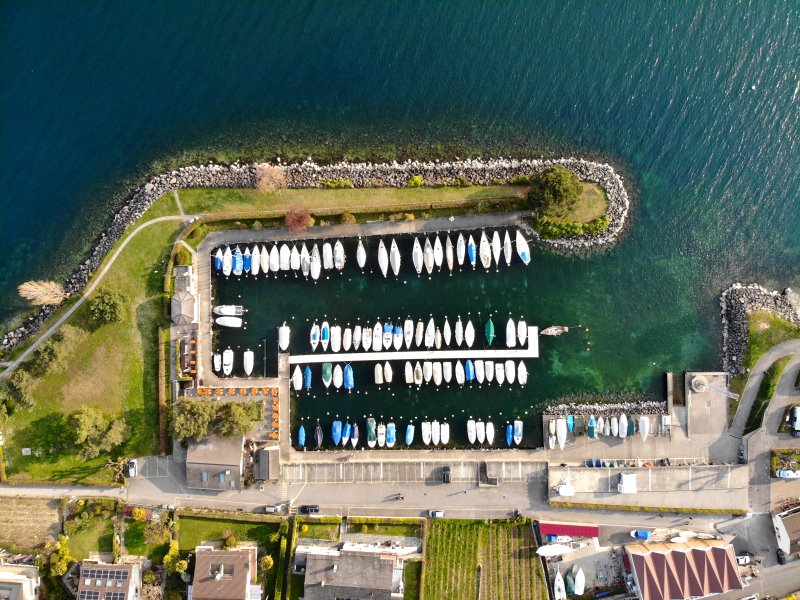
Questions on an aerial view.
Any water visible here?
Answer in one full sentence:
Yes, the picture does contain water.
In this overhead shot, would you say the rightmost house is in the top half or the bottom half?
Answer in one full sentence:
The bottom half of the photo is where the rightmost house is.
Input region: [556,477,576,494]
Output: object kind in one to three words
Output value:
vehicle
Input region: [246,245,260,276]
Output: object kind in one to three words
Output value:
boat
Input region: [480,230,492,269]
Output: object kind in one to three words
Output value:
boat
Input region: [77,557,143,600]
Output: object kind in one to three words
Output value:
house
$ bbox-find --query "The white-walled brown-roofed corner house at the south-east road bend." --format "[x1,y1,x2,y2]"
[772,504,800,555]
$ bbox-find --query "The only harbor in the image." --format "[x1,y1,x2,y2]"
[197,211,738,465]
